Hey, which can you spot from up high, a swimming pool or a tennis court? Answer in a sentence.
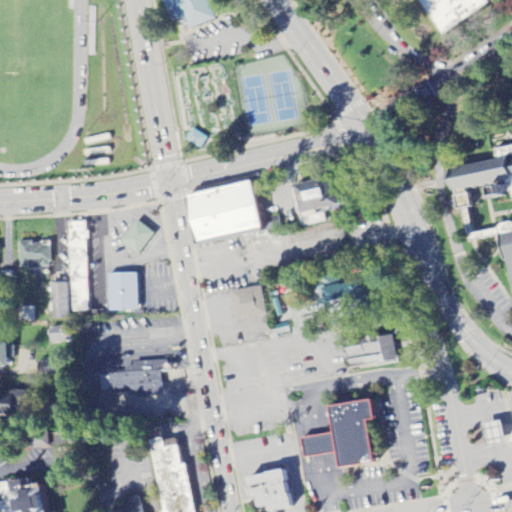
The image shows a tennis court.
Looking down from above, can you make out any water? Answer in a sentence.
No, there is no water in the image.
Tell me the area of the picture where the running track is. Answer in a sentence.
Look in the top left portion of the view to spot the running track.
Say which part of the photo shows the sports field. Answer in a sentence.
Look in the top left portion of the view to spot the sports field.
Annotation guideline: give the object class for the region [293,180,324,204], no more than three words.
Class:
house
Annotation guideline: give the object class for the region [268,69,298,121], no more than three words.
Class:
tennis court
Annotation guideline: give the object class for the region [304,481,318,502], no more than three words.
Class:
vehicle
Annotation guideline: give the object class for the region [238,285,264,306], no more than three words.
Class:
building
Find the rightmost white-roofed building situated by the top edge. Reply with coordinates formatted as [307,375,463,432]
[421,0,490,33]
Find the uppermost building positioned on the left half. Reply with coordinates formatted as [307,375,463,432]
[170,0,218,30]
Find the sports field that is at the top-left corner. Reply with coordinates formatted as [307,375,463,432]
[0,0,75,164]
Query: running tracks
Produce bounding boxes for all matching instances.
[0,0,90,178]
